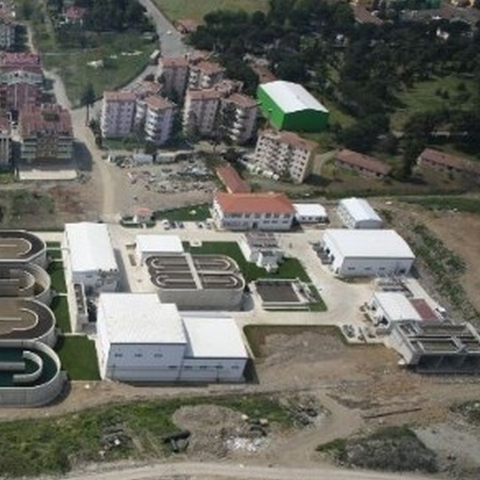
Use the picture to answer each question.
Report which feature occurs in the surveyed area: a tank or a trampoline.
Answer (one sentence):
This aerial view contains a tank.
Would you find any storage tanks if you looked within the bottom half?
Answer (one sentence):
Yes, a storage tank is visible within the bottom half.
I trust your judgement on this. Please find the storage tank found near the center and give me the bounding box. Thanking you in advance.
[142,246,247,310]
